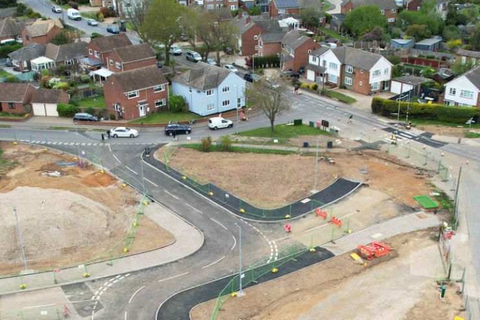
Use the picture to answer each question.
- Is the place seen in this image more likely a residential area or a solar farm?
residential area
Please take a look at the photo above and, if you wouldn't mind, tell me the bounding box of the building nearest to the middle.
[175,60,251,117]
